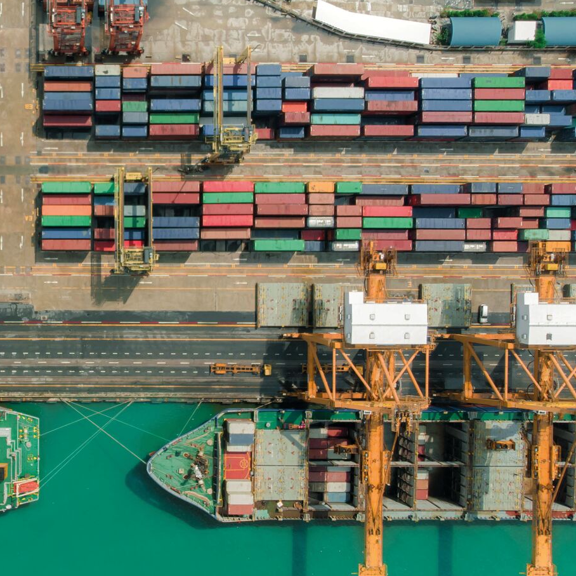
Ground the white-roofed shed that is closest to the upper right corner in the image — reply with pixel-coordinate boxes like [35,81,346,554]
[505,21,537,45]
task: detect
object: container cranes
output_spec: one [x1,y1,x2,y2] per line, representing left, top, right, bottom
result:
[107,165,158,274]
[274,237,432,576]
[427,238,576,576]
[46,0,93,52]
[96,0,148,52]
[196,42,256,159]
